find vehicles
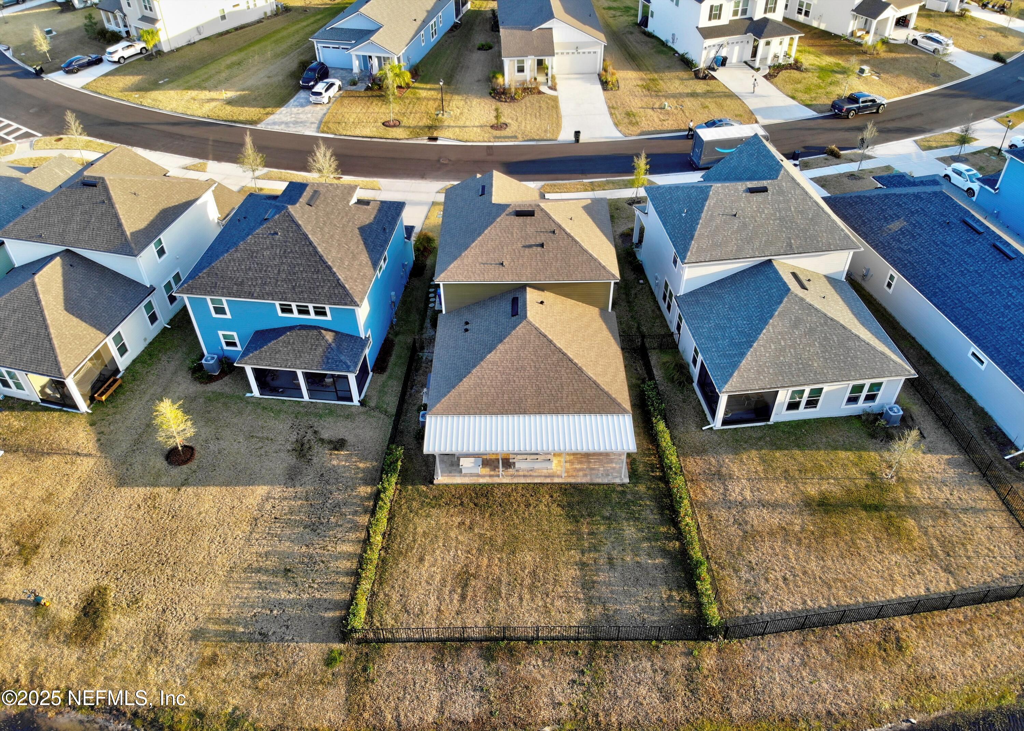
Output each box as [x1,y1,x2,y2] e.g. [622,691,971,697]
[301,57,325,83]
[682,119,767,168]
[101,40,146,64]
[1003,132,1024,149]
[985,0,1013,12]
[912,30,958,54]
[942,158,984,193]
[830,89,892,119]
[309,80,340,103]
[56,53,101,73]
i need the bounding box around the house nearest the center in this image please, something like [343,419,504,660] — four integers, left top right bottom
[426,171,632,418]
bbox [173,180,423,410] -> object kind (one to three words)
house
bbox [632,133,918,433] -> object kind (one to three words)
house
